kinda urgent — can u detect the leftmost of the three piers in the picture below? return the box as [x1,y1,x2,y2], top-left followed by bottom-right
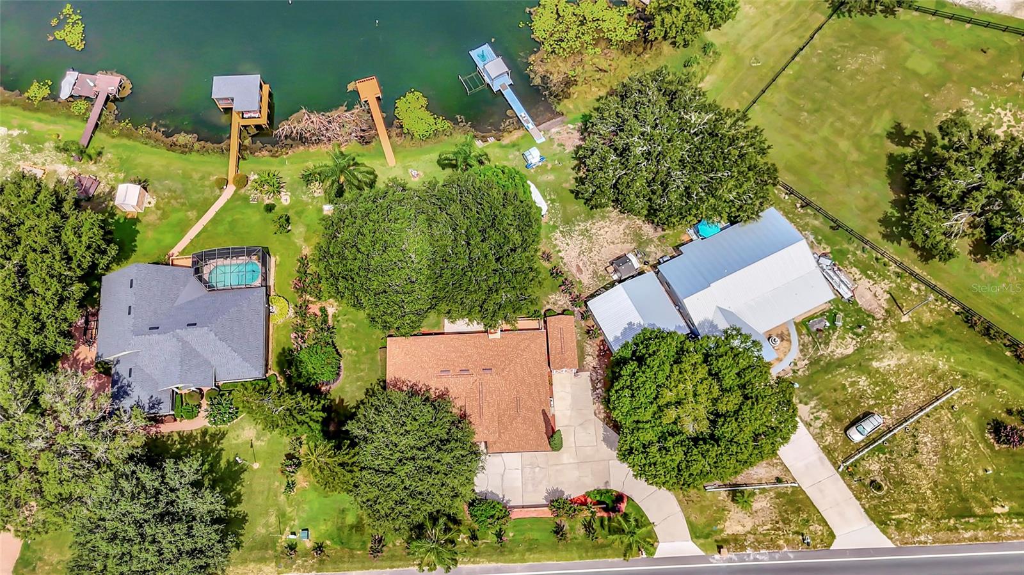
[72,73,126,145]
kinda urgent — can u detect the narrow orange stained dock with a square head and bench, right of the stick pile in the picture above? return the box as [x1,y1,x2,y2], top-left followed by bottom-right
[355,72,396,167]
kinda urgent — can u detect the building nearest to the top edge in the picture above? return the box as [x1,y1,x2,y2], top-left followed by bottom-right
[212,74,272,187]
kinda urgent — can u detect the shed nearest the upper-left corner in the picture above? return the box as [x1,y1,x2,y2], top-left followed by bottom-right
[113,181,150,223]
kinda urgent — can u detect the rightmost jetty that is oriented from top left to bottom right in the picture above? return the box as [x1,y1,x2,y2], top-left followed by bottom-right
[468,42,546,144]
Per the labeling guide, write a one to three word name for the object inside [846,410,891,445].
car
